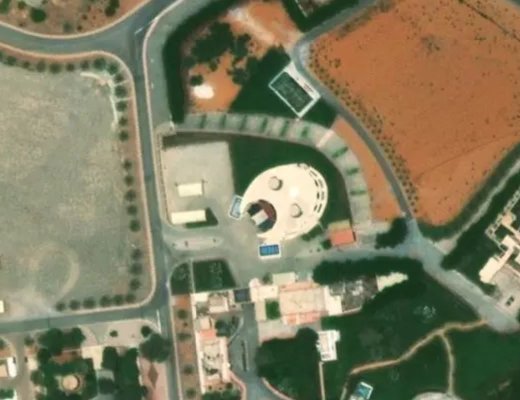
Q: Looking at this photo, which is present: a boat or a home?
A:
home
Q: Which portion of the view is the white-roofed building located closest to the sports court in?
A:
center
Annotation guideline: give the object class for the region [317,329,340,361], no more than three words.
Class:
building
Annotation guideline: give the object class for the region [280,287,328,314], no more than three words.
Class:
house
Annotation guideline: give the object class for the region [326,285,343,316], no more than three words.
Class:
house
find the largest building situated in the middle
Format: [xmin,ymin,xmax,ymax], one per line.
[243,163,329,243]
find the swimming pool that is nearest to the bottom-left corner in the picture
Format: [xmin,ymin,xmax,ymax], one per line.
[235,289,250,303]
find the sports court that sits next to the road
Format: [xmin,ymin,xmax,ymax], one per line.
[270,61,321,115]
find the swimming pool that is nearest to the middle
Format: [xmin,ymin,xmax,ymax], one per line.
[229,195,243,218]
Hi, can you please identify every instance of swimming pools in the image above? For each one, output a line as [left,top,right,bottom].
[229,195,243,218]
[355,382,373,400]
[235,289,250,303]
[258,243,281,258]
